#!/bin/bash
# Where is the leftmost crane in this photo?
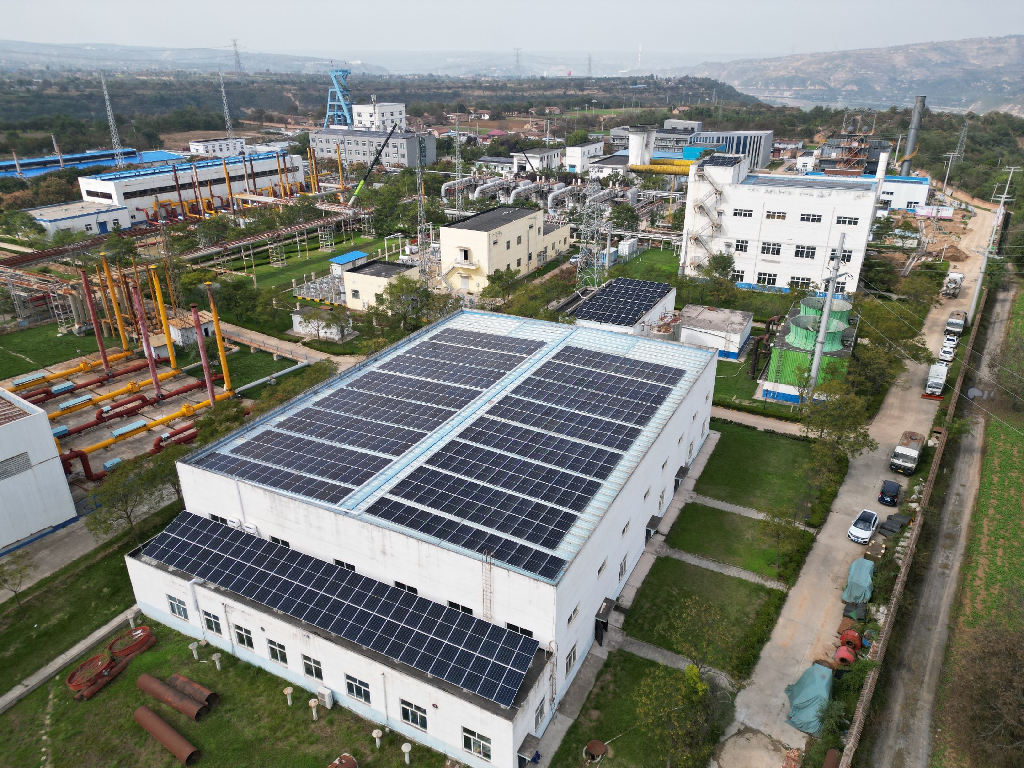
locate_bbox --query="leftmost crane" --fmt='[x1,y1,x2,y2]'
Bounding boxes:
[340,122,399,214]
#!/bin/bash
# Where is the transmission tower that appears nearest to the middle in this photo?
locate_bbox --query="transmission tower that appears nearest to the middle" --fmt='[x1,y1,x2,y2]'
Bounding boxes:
[567,165,612,299]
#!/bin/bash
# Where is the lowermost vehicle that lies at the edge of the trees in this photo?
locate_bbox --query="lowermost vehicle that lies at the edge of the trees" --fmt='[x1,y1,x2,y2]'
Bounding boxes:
[852,505,877,539]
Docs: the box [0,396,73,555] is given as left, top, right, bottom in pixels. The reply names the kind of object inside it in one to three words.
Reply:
building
